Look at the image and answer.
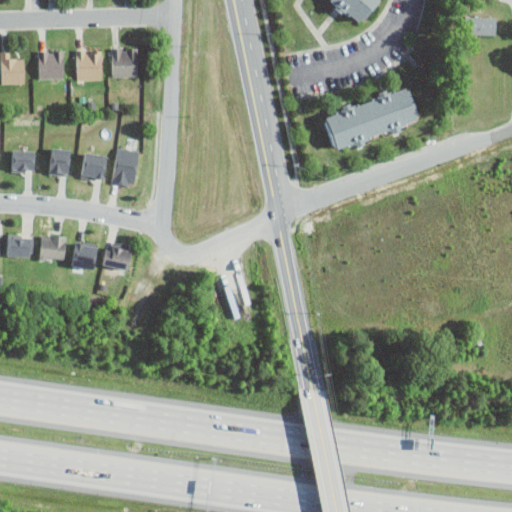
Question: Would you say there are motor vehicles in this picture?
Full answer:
Yes, this view includes a motor vehicle.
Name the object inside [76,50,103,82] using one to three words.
house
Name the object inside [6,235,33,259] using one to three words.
house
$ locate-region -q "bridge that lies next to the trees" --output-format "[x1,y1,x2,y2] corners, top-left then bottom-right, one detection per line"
[300,394,350,512]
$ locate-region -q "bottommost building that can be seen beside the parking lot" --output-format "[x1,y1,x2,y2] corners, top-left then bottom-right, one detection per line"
[323,88,418,150]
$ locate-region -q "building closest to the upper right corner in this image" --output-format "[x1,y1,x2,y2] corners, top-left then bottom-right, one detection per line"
[474,16,498,36]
